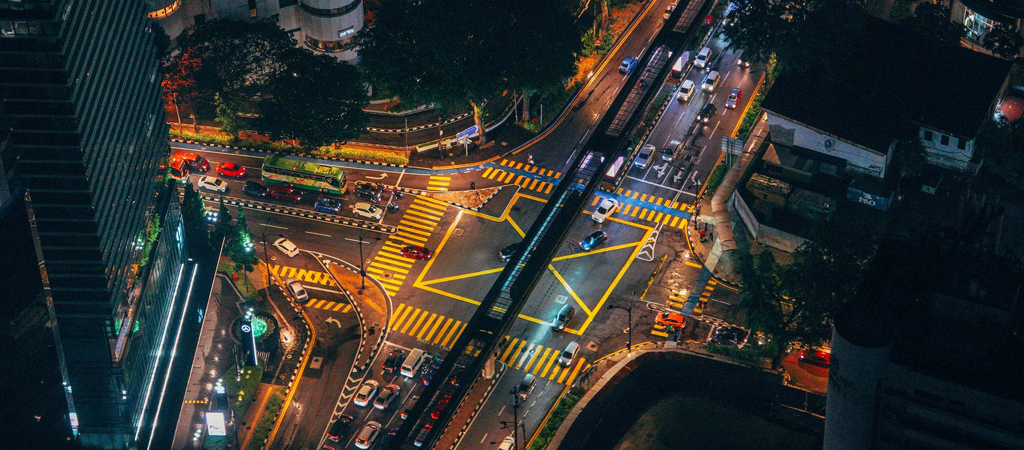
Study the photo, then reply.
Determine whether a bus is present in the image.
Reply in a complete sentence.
Yes, looking at the shot, I can spot a bus.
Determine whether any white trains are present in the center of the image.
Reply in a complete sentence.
No, in the center of the image there is no white train.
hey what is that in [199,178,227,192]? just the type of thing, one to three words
car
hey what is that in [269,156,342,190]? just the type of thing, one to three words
bus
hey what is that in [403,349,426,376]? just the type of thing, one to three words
vehicle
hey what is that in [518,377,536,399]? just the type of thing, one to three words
car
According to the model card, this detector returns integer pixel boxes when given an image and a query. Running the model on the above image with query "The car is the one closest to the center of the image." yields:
[498,244,517,260]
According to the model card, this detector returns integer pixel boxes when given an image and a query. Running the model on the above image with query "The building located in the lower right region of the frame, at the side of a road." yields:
[819,247,1024,450]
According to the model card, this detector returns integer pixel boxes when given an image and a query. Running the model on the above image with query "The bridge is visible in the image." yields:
[398,0,717,450]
